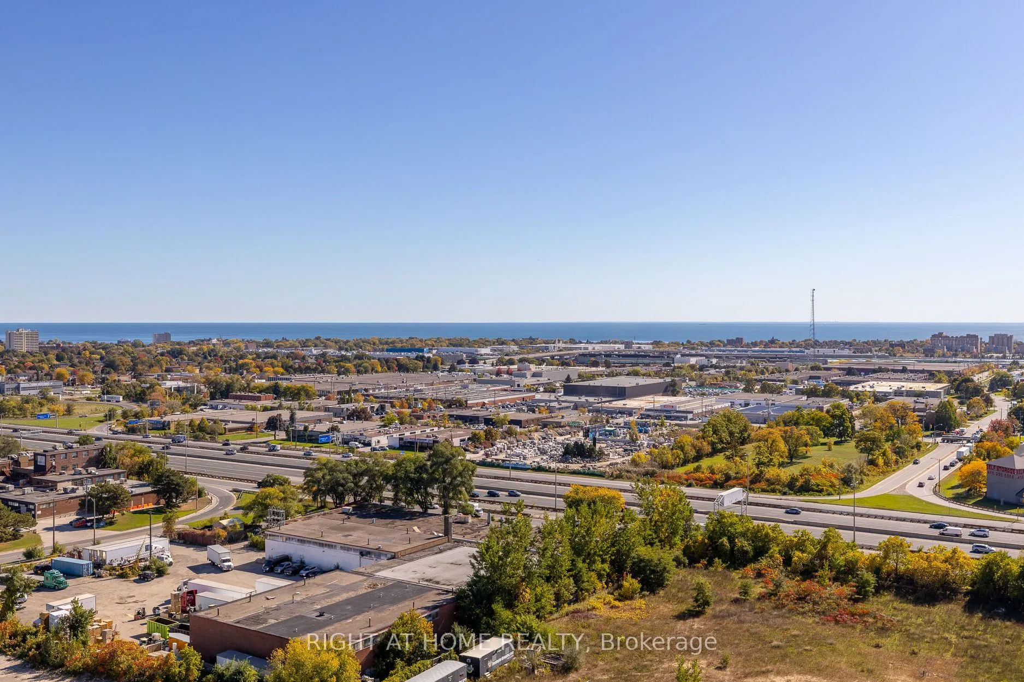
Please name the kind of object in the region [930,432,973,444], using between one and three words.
vehicle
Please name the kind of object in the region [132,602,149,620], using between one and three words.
work vehicle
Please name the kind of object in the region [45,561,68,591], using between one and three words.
truck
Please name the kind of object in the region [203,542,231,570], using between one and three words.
truck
